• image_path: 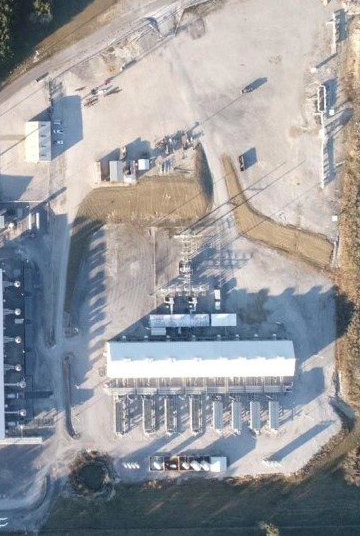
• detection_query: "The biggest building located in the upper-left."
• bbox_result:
[24,121,51,162]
